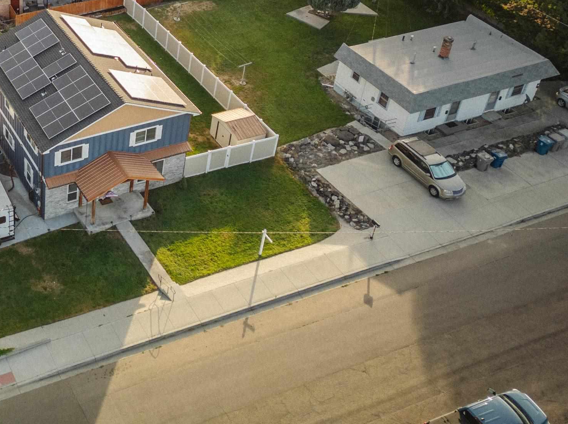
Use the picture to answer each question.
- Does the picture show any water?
No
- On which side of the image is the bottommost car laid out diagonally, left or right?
right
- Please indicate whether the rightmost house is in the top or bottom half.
top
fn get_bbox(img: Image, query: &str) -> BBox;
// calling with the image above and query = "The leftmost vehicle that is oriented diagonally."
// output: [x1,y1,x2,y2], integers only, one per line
[390,131,471,200]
